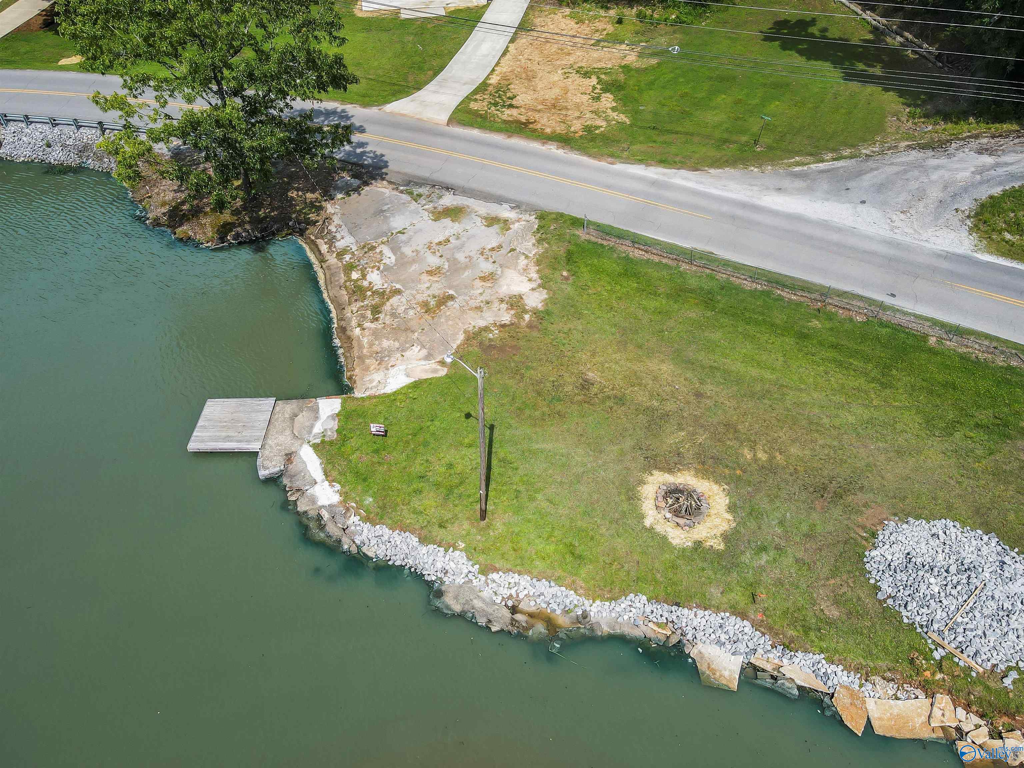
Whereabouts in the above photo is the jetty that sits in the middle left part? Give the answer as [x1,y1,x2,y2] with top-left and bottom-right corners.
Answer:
[187,397,277,452]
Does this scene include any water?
Yes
